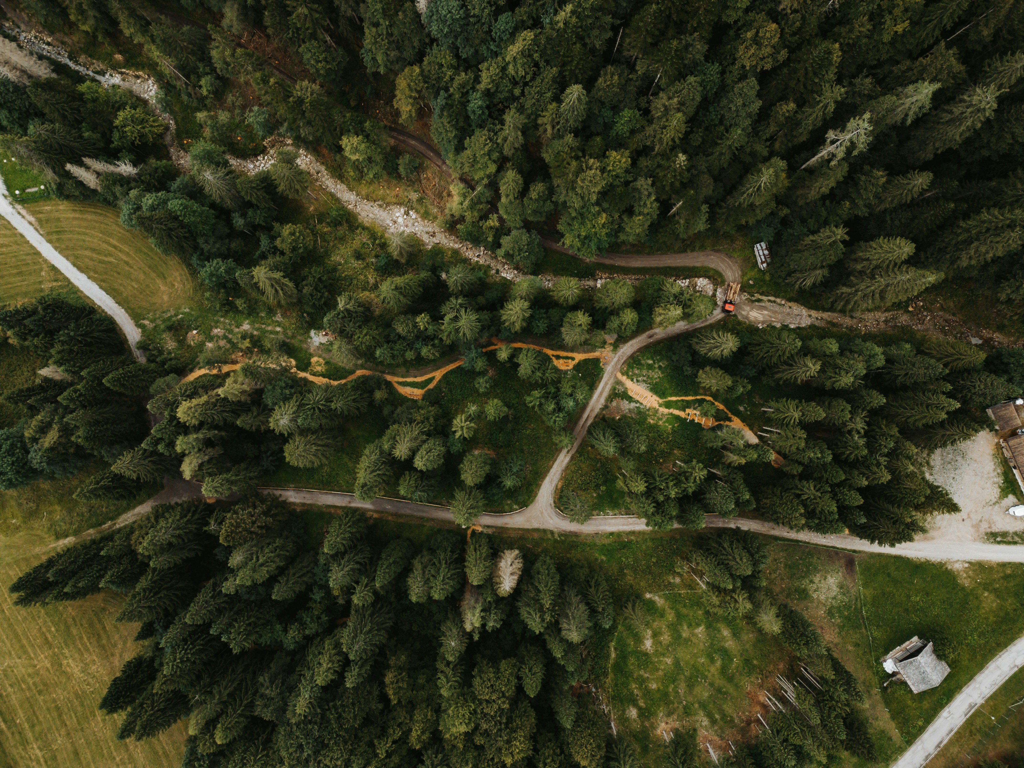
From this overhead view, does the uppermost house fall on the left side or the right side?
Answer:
right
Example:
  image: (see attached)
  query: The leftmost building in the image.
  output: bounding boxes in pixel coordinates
[880,635,951,694]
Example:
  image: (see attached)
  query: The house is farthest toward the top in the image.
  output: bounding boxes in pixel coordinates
[984,401,1024,431]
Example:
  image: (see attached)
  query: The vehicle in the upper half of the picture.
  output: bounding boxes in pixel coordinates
[723,285,741,315]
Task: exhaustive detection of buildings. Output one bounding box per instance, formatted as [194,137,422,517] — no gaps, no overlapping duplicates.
[880,635,951,694]
[984,401,1024,431]
[1000,432,1024,495]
